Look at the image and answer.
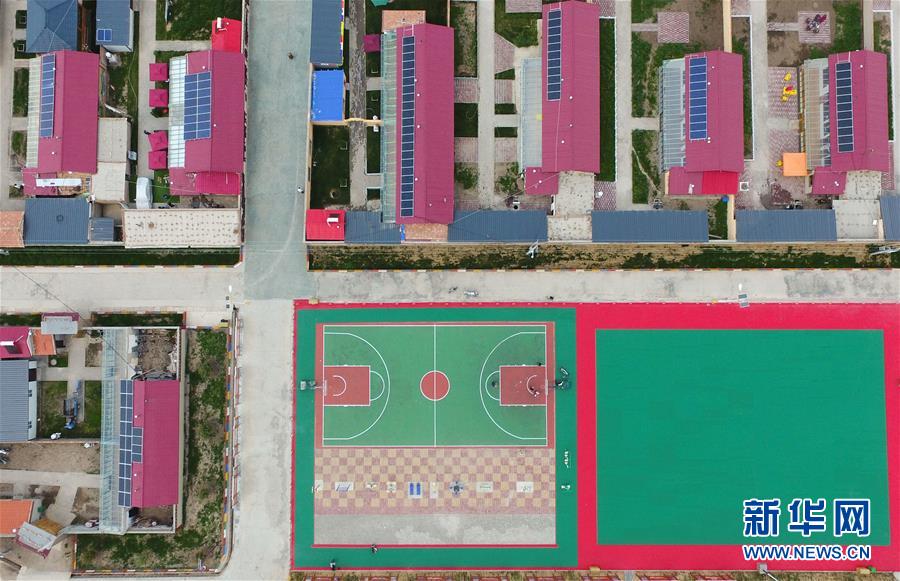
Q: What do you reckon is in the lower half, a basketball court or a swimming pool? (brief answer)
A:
basketball court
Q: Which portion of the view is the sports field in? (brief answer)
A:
bottom right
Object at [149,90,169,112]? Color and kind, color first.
pink gazebo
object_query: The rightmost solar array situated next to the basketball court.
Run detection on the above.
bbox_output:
[402,29,415,217]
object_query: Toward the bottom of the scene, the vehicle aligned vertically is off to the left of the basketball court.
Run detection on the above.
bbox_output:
[60,382,77,430]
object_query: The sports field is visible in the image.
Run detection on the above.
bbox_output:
[577,305,900,572]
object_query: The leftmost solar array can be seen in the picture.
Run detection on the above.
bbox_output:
[40,52,54,140]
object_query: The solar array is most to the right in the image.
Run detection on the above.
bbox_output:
[835,55,854,154]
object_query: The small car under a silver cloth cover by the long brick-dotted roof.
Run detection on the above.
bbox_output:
[135,178,153,208]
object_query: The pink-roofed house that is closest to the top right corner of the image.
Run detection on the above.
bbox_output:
[793,48,889,184]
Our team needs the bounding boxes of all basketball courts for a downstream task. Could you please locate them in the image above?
[292,305,577,570]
